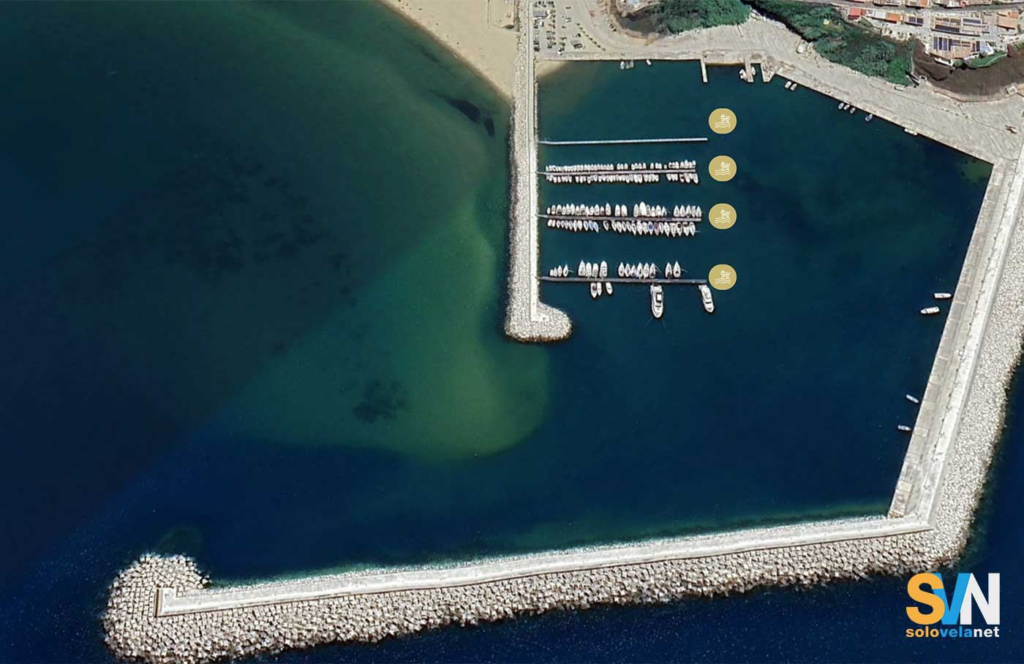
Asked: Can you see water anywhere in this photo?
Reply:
Yes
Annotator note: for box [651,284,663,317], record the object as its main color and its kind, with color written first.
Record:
white boat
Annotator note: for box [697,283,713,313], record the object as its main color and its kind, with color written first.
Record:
white boat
